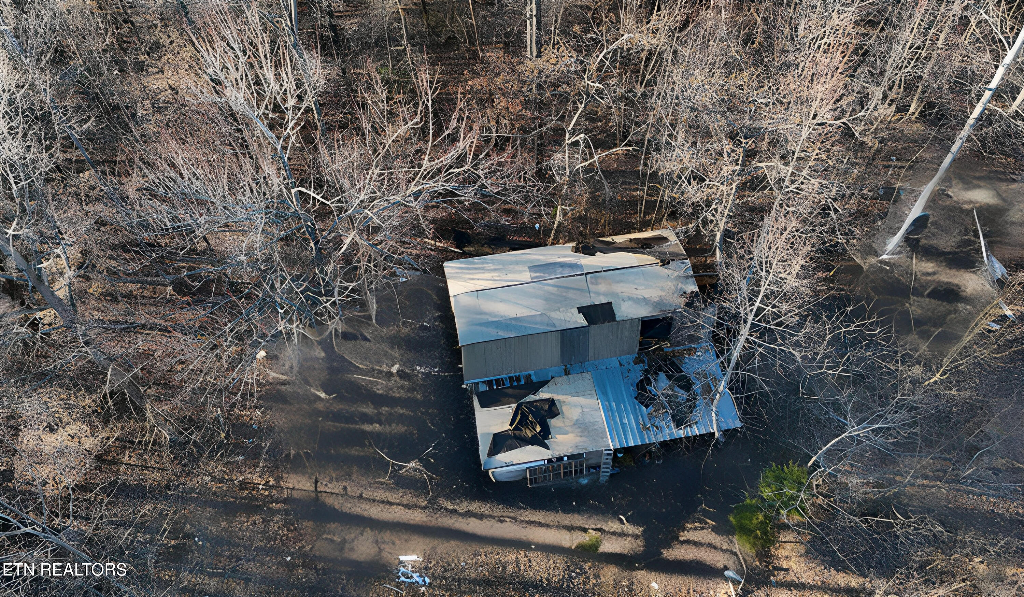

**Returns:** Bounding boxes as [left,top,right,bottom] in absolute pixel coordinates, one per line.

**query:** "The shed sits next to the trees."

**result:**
[444,228,742,489]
